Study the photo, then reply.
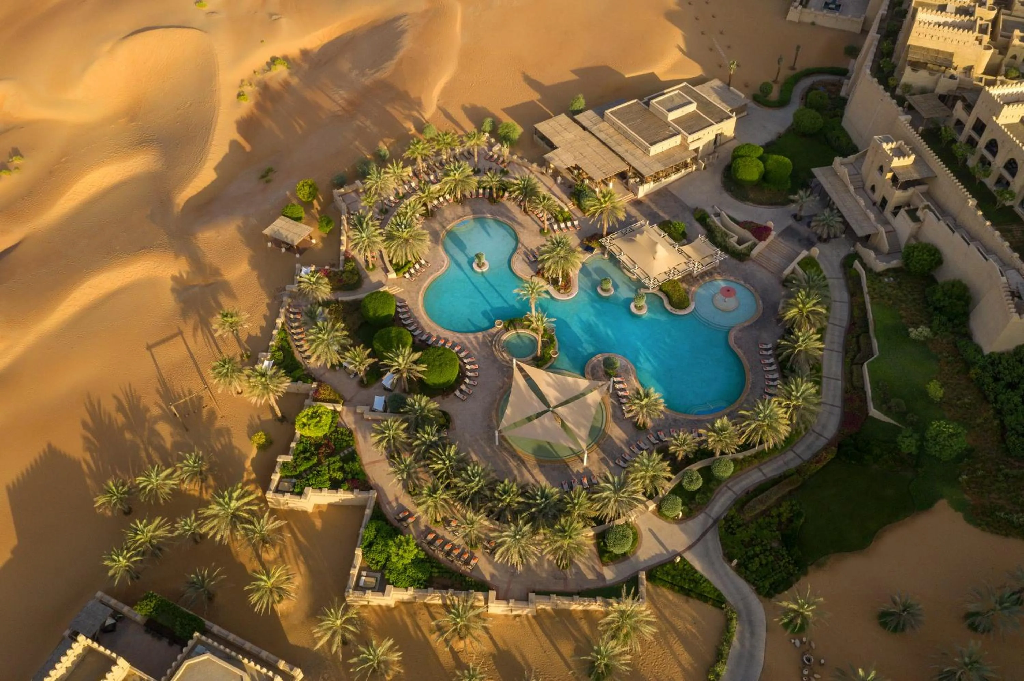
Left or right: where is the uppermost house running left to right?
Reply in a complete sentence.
The uppermost house running left to right appears in the right half of the scene.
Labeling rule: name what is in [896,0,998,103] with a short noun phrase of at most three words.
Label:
house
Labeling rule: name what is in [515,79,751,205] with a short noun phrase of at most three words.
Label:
building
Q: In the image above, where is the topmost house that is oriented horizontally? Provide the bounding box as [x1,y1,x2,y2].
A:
[787,0,869,34]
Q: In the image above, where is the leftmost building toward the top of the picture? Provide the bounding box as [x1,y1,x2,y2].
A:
[261,216,314,257]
